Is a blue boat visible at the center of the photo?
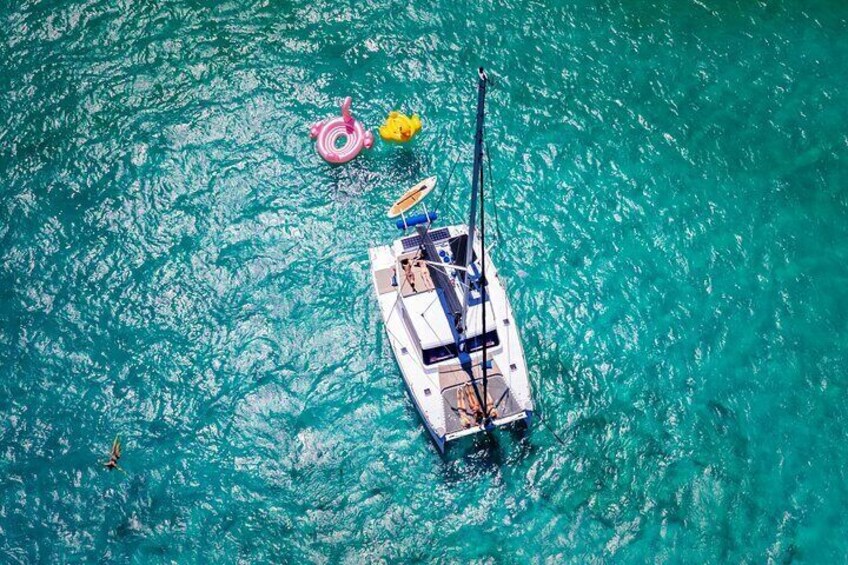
No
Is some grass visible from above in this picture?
No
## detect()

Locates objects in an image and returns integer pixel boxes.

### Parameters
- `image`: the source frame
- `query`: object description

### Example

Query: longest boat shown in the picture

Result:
[368,43,556,454]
